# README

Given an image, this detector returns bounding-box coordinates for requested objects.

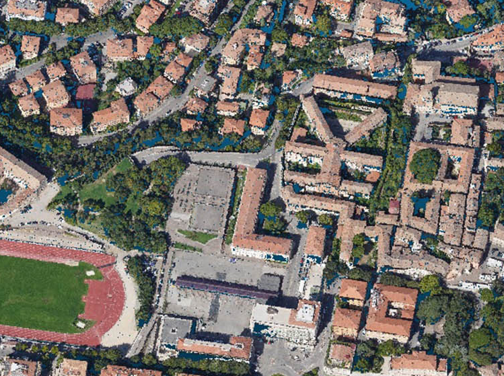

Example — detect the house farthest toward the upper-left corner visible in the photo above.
[5,0,47,21]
